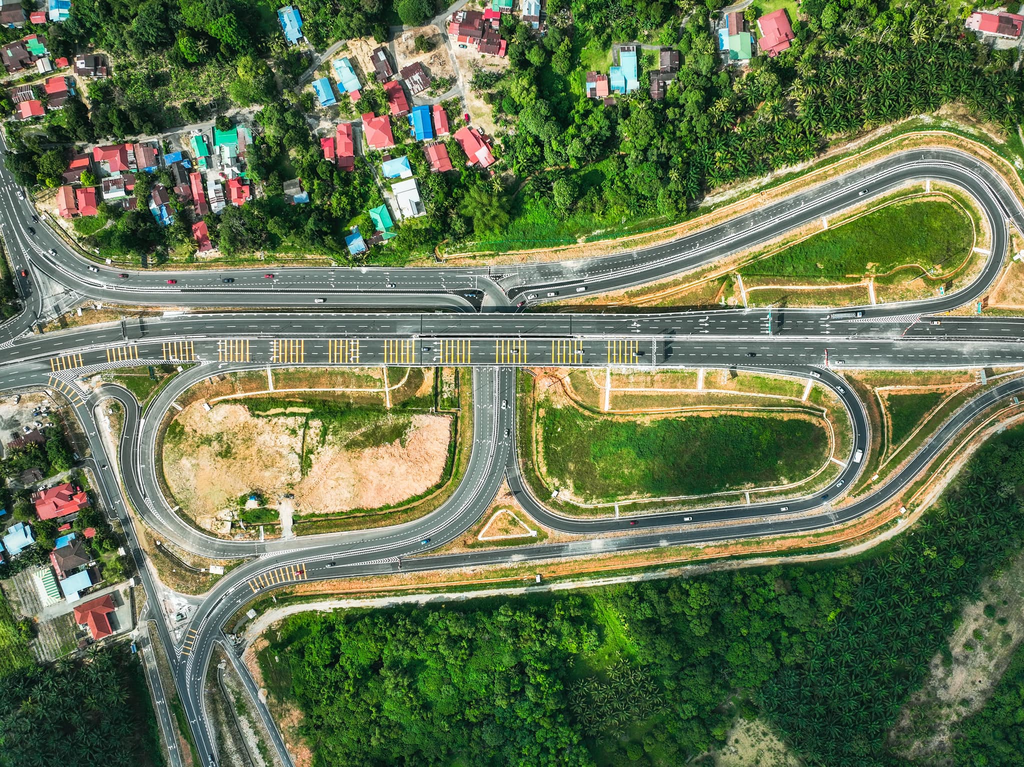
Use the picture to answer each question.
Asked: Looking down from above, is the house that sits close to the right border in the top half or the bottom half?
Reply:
top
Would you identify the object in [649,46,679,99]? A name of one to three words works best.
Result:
house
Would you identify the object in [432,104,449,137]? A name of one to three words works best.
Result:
house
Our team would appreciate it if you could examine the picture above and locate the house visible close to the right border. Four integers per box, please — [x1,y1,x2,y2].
[964,9,1024,37]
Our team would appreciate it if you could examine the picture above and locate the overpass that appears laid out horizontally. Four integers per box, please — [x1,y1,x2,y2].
[420,313,573,367]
